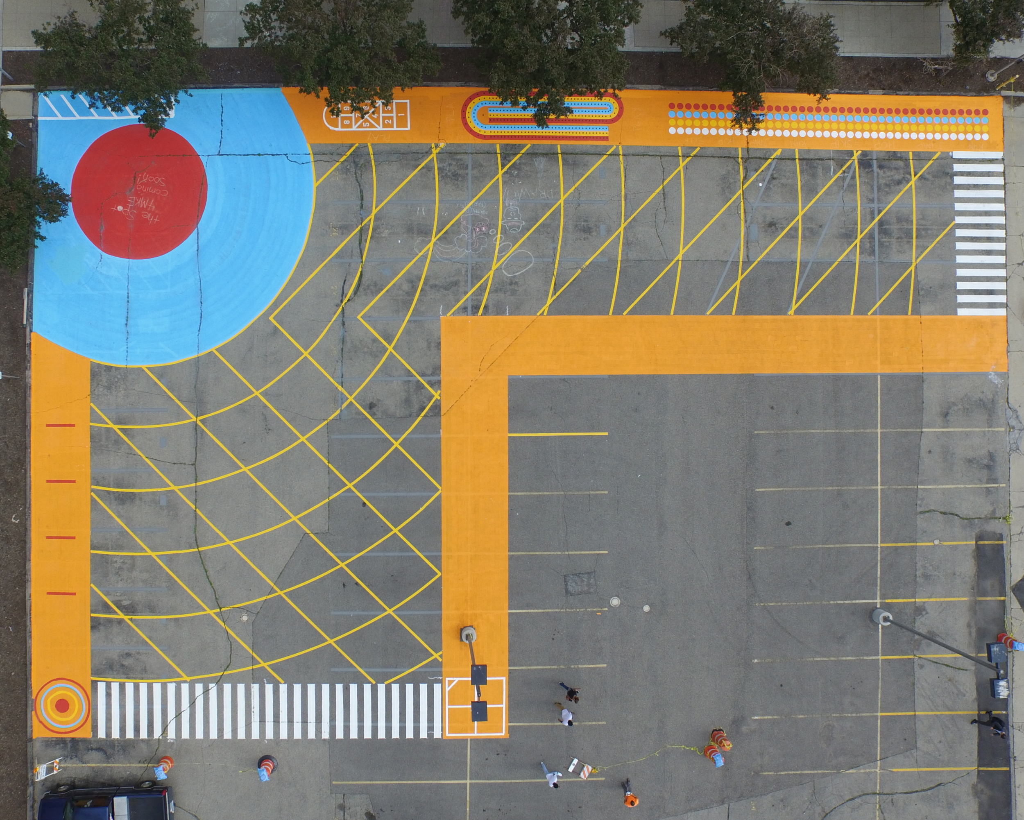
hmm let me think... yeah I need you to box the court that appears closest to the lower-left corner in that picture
[446,677,506,736]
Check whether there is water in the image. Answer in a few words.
No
